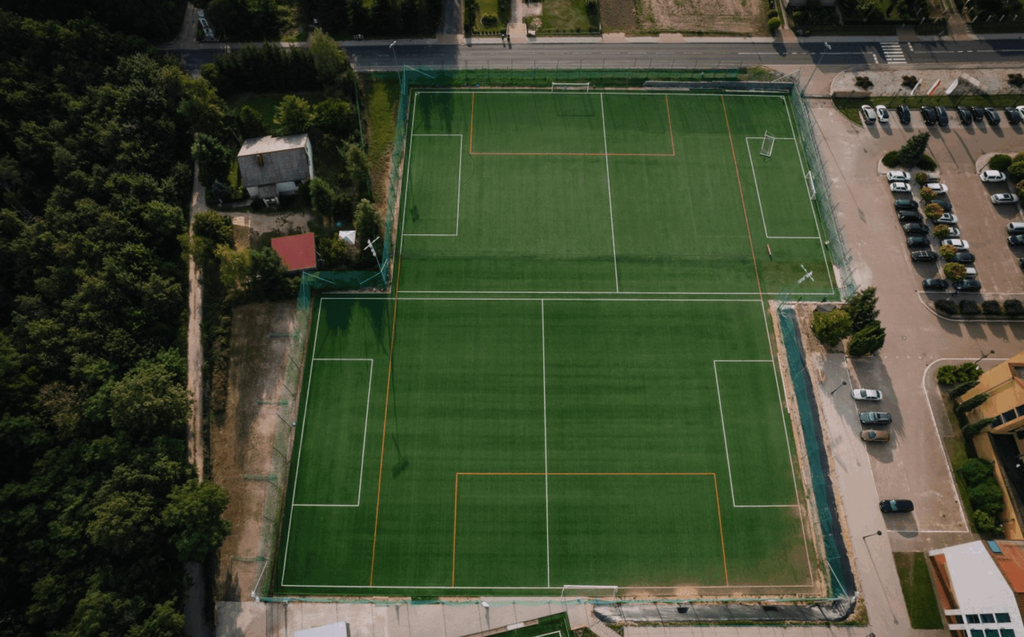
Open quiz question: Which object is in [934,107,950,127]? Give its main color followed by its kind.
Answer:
black car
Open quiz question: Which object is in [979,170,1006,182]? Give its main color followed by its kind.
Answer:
white vehicle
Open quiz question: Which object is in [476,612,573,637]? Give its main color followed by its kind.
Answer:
green soccer field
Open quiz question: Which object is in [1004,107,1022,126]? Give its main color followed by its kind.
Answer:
black car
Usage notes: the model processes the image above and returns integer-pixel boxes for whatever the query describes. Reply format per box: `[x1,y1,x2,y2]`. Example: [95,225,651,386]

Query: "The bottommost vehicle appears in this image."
[879,498,913,513]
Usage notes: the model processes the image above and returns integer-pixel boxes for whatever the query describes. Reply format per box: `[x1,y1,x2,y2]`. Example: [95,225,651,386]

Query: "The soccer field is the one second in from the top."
[270,293,822,596]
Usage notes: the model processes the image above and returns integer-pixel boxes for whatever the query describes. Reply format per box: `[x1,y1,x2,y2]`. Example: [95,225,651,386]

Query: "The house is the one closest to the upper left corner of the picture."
[242,134,312,212]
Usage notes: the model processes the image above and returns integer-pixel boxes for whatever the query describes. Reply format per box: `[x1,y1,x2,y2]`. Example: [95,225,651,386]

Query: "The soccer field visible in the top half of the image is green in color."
[389,88,840,301]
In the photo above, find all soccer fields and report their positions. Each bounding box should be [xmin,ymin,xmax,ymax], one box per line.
[476,612,573,637]
[389,88,840,301]
[270,293,822,596]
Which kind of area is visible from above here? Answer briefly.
sports ground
